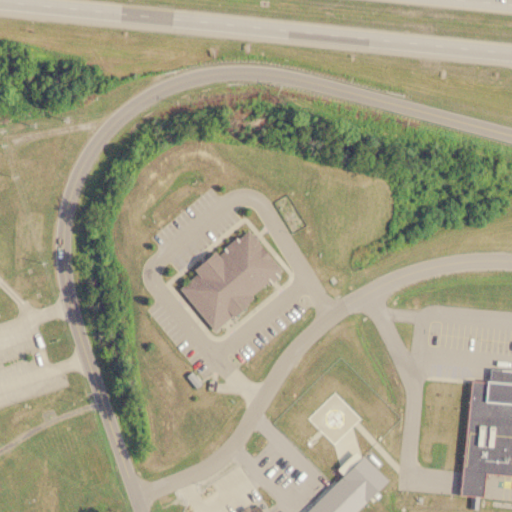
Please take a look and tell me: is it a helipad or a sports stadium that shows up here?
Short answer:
helipad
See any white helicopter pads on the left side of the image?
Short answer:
No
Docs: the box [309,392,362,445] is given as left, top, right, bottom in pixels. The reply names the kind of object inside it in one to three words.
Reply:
helipad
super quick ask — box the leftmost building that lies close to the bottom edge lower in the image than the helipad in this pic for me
[308,458,390,512]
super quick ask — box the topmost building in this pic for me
[180,232,283,328]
